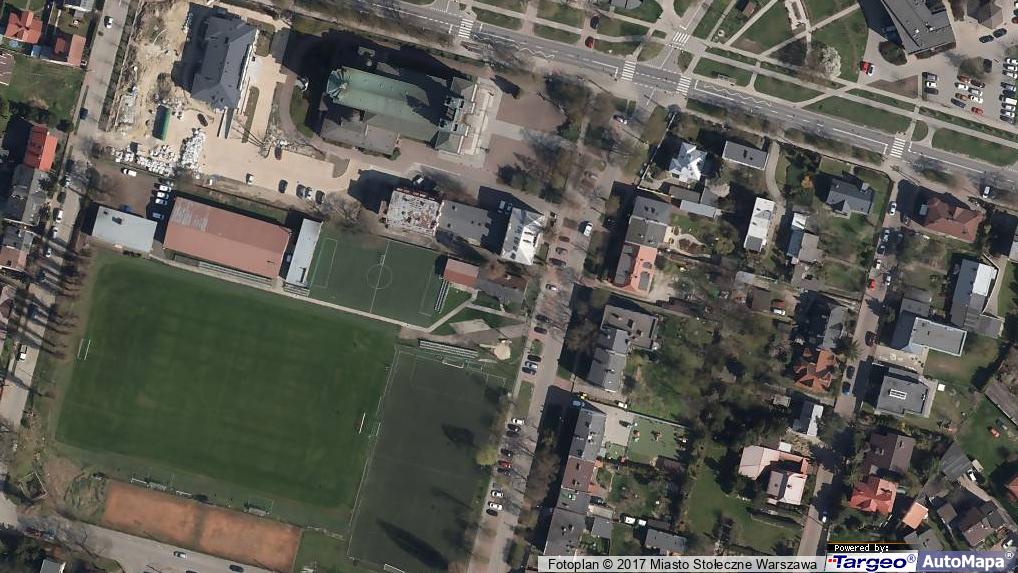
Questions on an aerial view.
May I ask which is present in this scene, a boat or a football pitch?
football pitch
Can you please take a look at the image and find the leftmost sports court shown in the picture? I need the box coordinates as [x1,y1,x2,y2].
[103,482,199,543]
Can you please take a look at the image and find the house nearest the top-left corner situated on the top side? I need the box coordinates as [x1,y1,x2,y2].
[5,10,42,44]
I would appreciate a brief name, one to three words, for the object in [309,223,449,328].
soccer field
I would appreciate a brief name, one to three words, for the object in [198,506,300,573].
sports court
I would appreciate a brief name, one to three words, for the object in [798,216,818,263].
house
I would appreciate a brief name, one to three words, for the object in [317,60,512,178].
building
